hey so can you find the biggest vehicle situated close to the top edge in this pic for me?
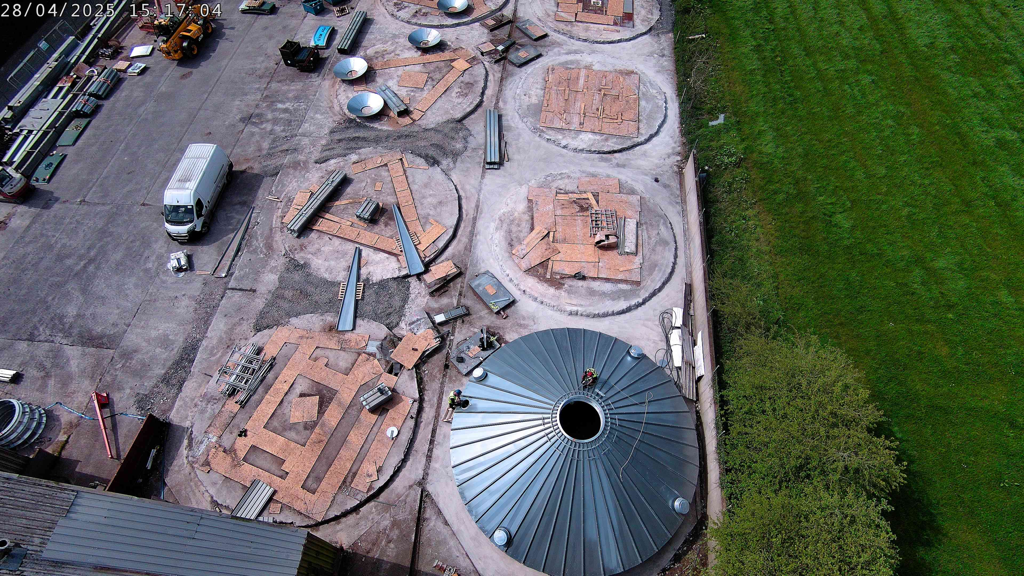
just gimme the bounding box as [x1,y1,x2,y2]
[146,5,216,60]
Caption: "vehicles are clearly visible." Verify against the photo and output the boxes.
[0,161,33,203]
[146,5,216,60]
[164,142,235,243]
